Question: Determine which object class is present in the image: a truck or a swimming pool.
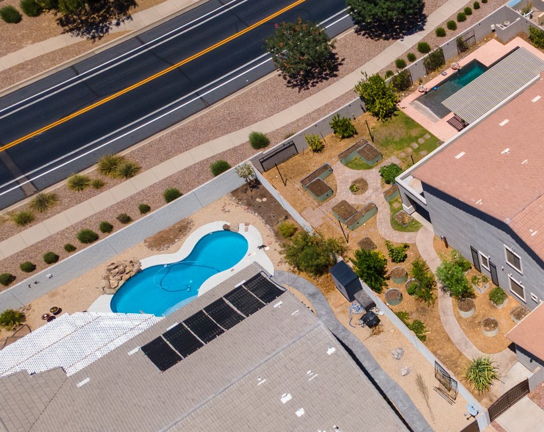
swimming pool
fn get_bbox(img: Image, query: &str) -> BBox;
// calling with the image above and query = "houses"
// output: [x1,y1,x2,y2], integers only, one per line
[0,258,413,432]
[394,74,544,383]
